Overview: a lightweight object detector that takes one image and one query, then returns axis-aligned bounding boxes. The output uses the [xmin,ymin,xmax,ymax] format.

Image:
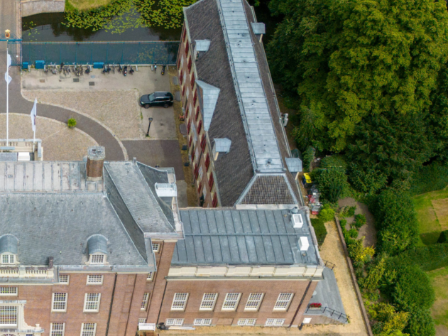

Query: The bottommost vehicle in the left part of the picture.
[138,87,176,107]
